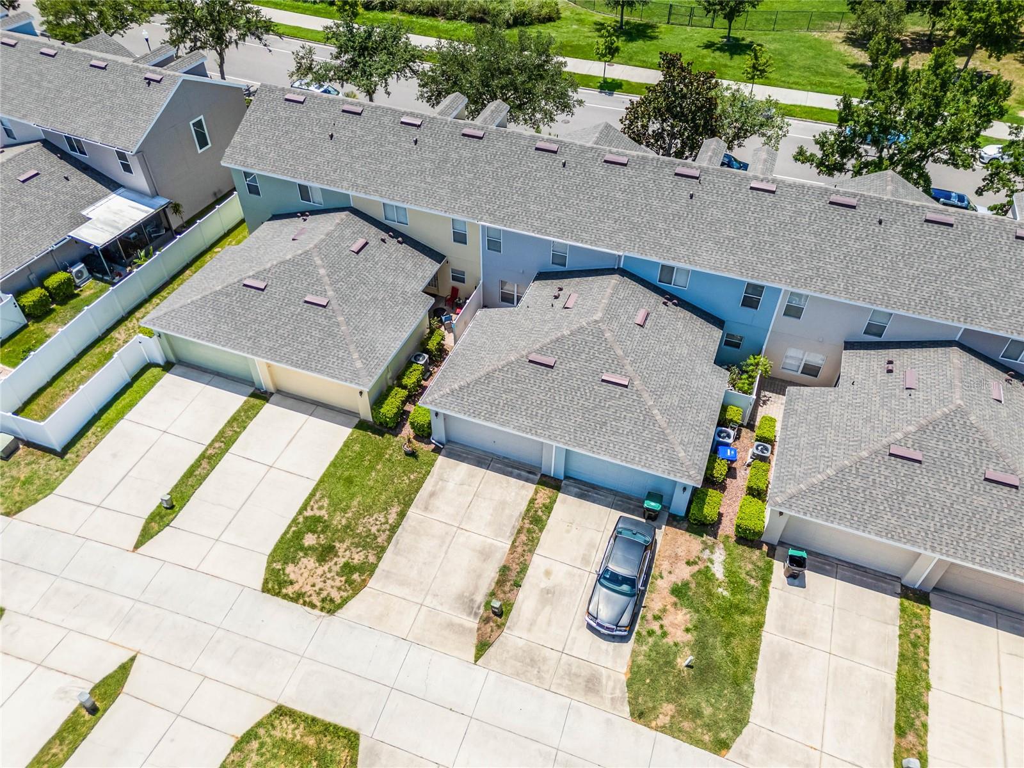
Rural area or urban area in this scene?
urban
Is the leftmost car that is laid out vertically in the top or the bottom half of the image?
bottom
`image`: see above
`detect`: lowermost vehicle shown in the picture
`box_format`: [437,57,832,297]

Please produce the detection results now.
[586,512,662,641]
